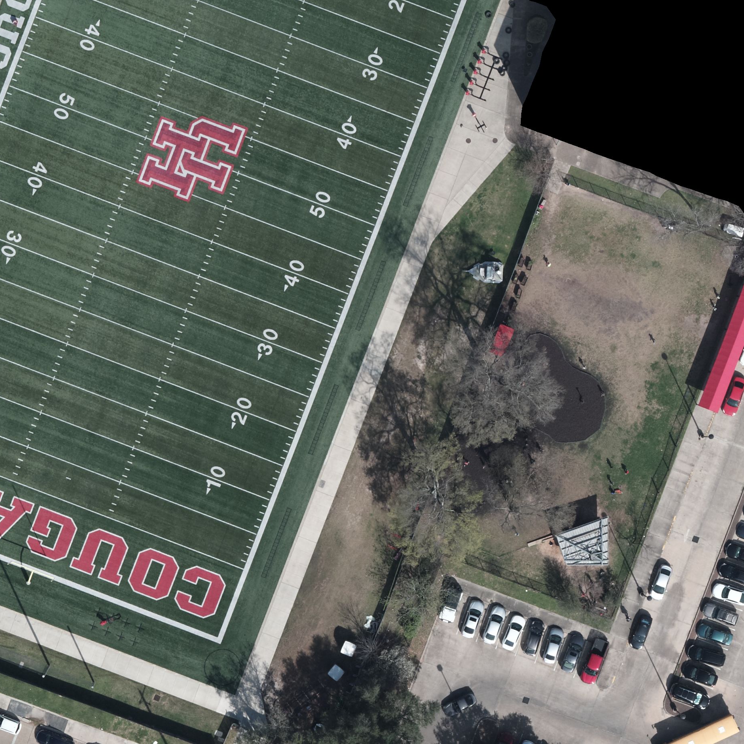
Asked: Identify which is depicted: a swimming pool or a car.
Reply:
car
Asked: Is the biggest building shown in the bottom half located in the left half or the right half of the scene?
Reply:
right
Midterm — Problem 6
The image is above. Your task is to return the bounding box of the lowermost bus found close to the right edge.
[662,710,743,744]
